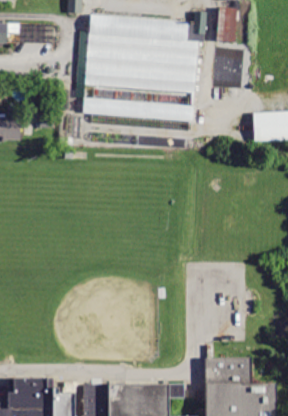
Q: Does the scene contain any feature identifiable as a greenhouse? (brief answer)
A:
Yes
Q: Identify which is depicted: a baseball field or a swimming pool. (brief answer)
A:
baseball field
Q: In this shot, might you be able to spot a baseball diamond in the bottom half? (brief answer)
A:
Yes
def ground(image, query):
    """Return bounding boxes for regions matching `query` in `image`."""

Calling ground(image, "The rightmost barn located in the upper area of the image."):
[254,111,288,142]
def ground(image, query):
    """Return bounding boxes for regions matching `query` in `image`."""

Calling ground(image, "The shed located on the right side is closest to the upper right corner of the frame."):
[218,7,240,43]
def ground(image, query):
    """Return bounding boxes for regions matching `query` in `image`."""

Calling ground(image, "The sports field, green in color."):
[0,150,196,366]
